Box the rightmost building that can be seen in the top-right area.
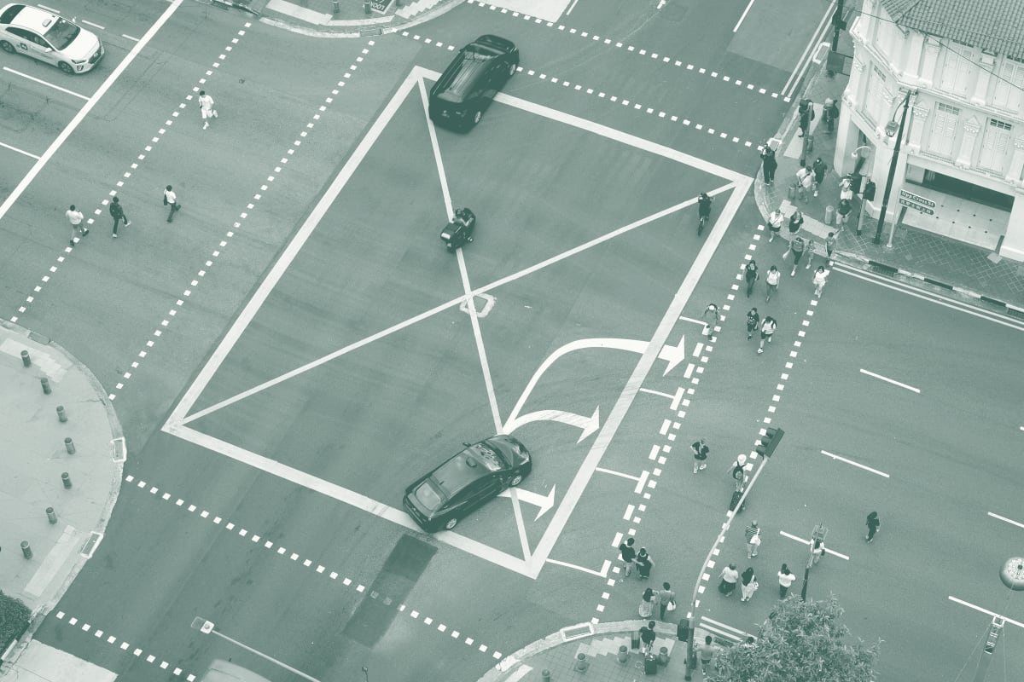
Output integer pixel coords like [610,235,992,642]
[835,0,1024,258]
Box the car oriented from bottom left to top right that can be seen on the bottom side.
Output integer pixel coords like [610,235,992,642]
[404,432,528,529]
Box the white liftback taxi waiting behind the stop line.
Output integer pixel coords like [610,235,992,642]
[0,3,104,73]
